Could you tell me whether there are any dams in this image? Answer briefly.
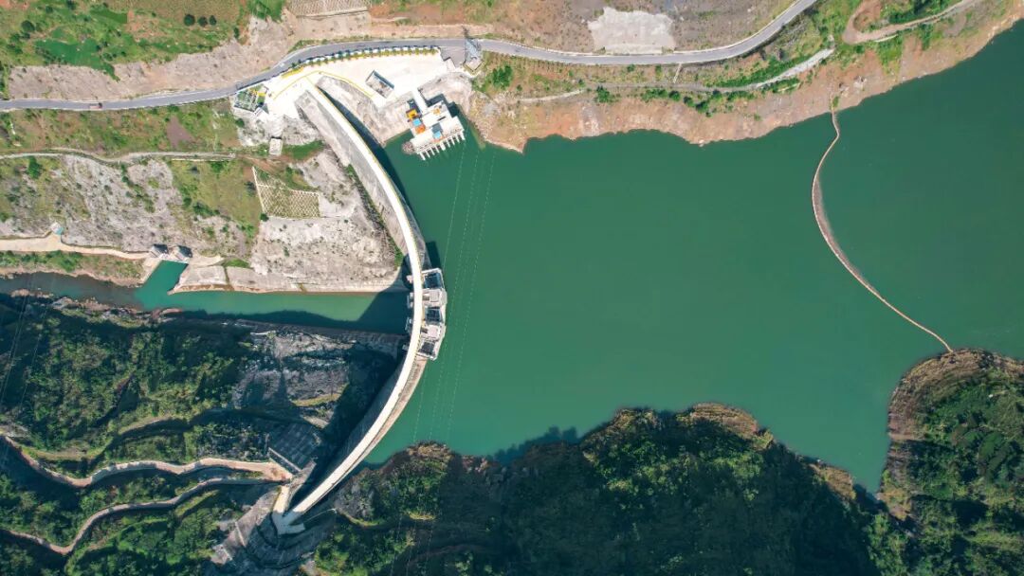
Yes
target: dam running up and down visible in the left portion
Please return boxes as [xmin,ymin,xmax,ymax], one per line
[281,65,449,527]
